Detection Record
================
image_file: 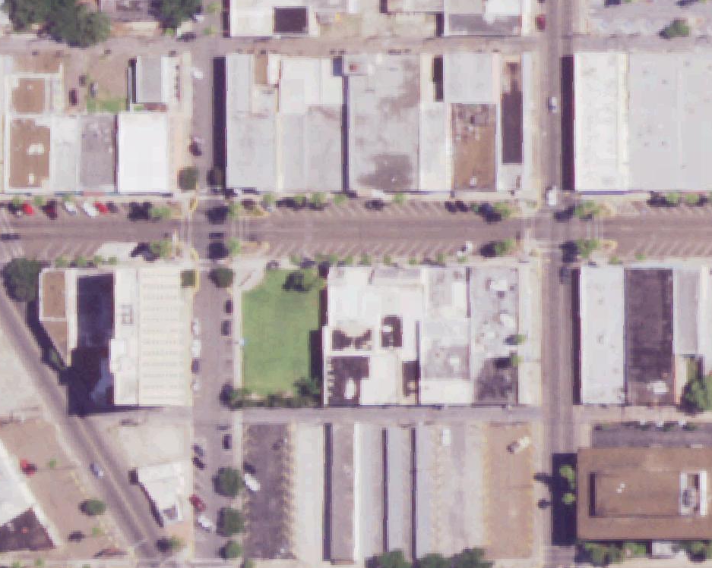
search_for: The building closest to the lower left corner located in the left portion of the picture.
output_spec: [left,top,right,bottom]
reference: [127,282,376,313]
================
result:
[0,508,56,550]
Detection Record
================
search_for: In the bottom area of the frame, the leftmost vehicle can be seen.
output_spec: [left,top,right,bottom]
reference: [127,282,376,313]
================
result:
[21,460,34,477]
